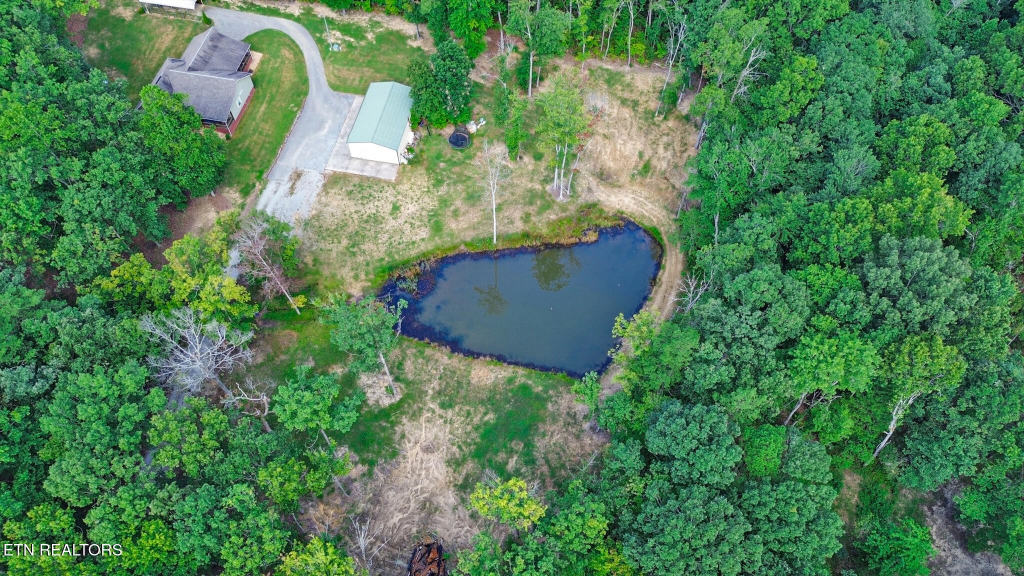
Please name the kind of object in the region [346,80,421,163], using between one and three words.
shed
